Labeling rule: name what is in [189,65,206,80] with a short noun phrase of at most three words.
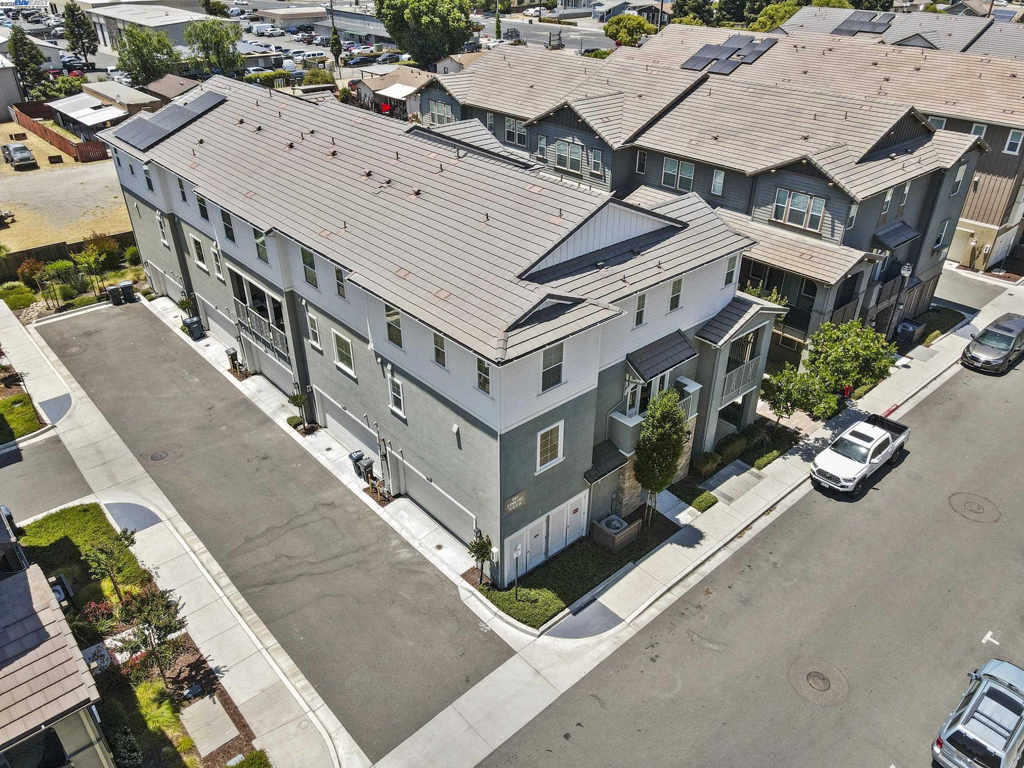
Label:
car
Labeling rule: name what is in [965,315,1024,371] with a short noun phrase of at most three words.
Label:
car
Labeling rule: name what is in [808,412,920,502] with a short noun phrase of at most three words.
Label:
truck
